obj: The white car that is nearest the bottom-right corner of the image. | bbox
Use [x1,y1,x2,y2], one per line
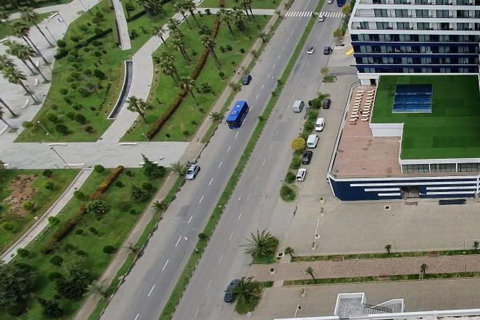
[295,168,307,182]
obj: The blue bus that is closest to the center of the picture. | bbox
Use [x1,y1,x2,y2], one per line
[223,100,251,131]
